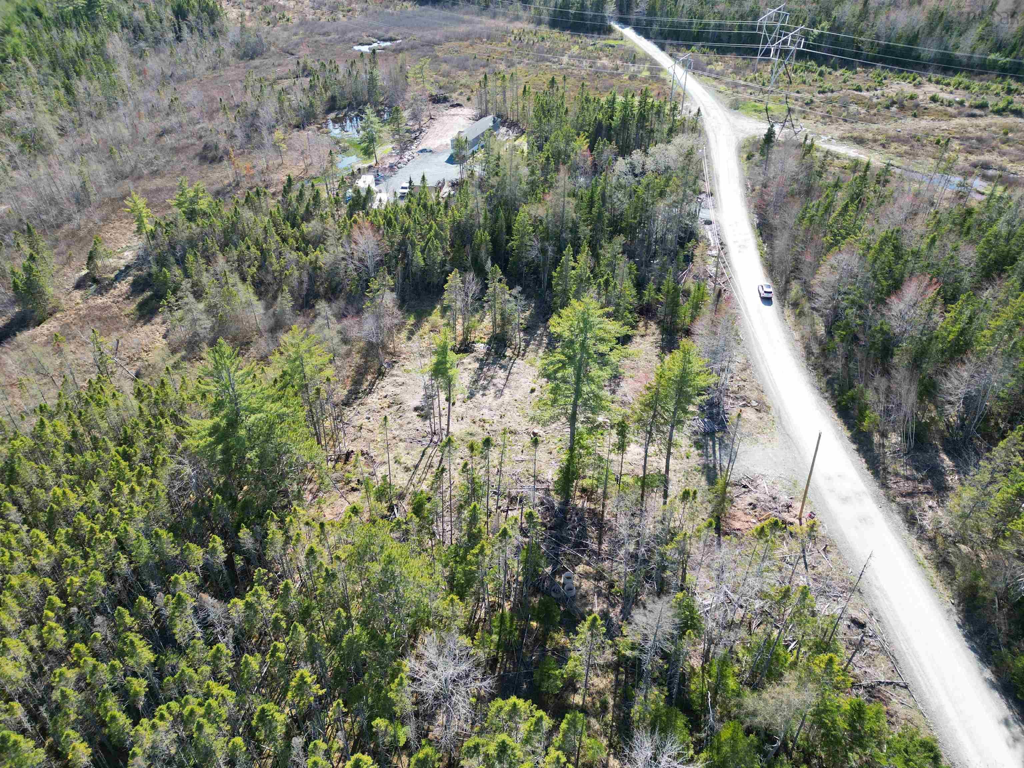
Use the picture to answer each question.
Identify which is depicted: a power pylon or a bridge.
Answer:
power pylon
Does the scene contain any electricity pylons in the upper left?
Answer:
No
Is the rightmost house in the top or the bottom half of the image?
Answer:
top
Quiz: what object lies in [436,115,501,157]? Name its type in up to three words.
house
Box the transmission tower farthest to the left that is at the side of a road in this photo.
[661,49,700,137]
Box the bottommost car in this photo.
[756,277,775,296]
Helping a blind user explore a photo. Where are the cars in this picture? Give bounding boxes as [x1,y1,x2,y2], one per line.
[398,179,411,195]
[756,277,775,296]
